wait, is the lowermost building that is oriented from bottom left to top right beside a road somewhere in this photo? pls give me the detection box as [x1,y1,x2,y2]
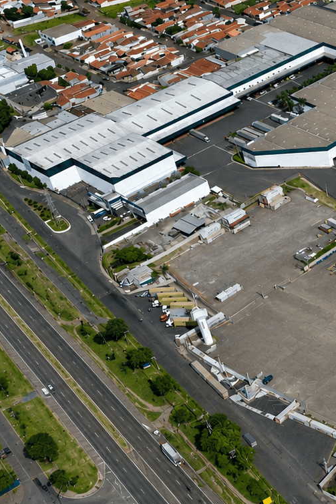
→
[274,399,300,428]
